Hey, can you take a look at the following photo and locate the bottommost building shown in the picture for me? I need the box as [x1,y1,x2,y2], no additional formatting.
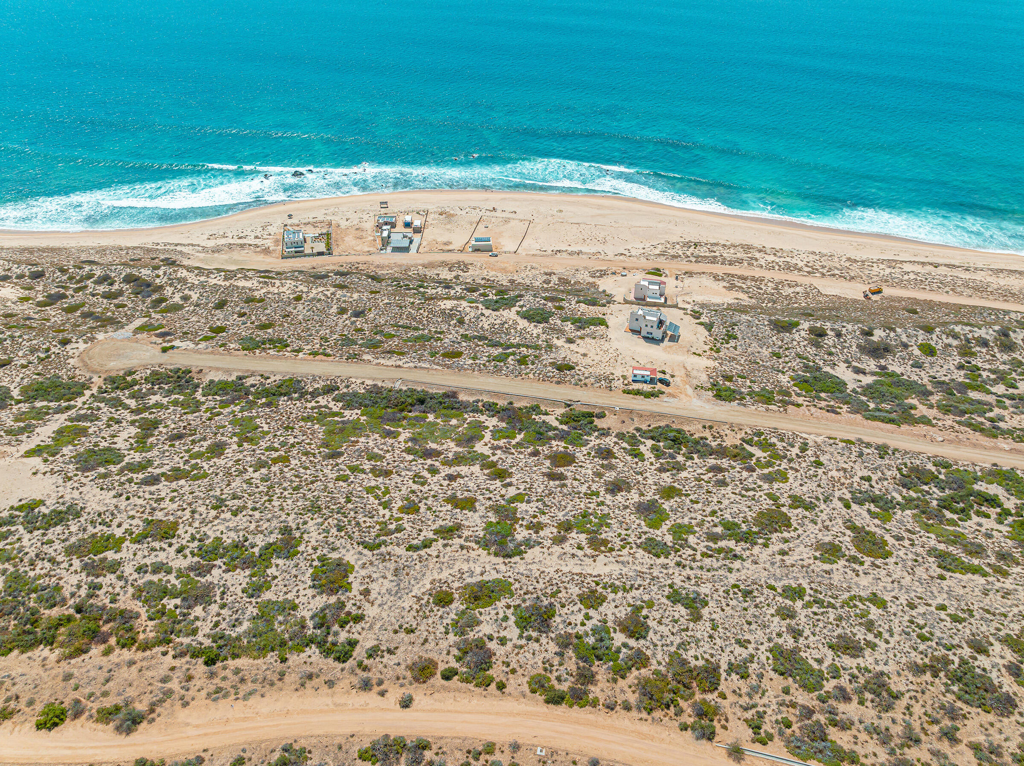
[632,366,659,384]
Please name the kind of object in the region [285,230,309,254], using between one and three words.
house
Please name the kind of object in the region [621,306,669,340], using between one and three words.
house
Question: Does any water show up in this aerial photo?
Yes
